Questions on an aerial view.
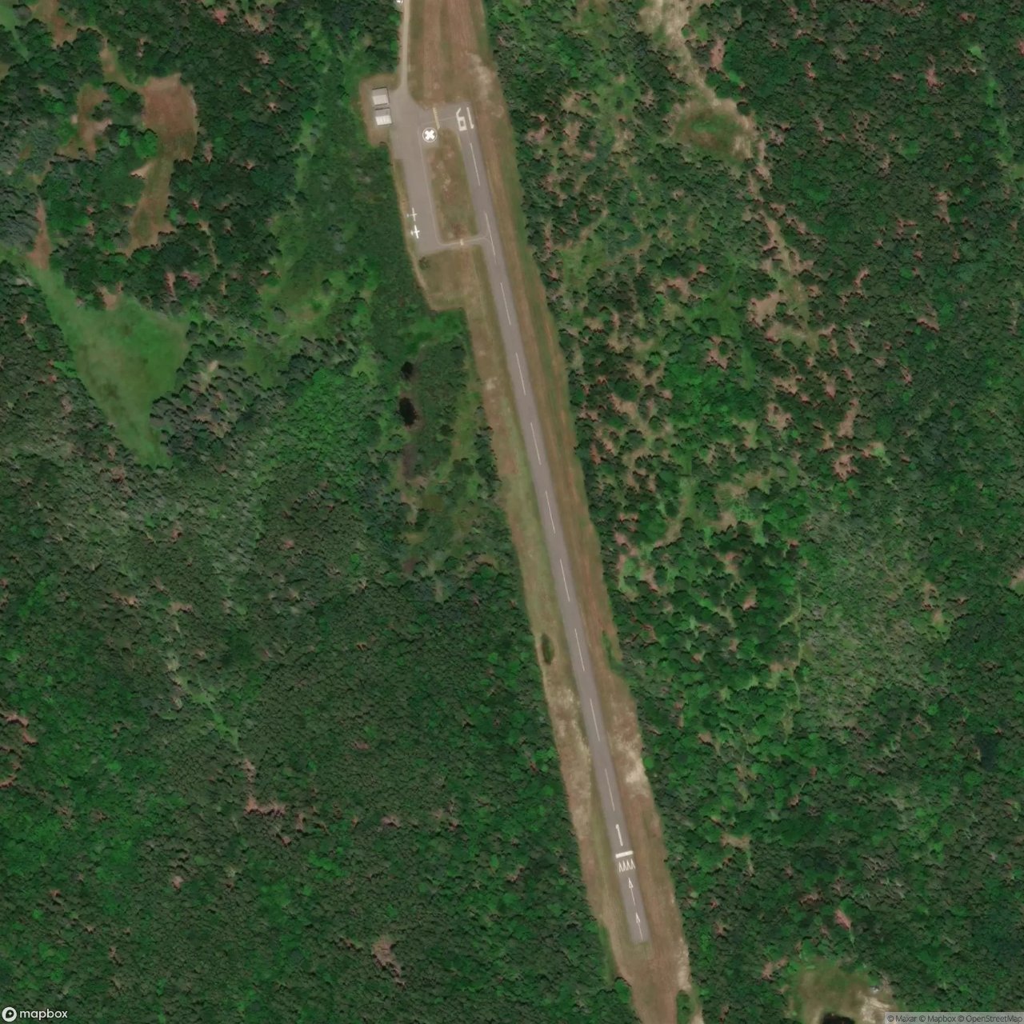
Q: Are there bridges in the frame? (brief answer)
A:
No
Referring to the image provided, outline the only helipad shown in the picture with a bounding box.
[422,127,437,142]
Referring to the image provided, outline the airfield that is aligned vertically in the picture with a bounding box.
[360,0,705,1024]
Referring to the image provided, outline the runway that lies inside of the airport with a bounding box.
[453,102,650,943]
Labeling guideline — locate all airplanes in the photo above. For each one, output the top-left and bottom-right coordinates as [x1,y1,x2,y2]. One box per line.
[408,208,417,221]
[410,225,419,237]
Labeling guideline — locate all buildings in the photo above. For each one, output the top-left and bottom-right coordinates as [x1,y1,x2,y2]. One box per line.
[376,108,393,126]
[373,88,389,106]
